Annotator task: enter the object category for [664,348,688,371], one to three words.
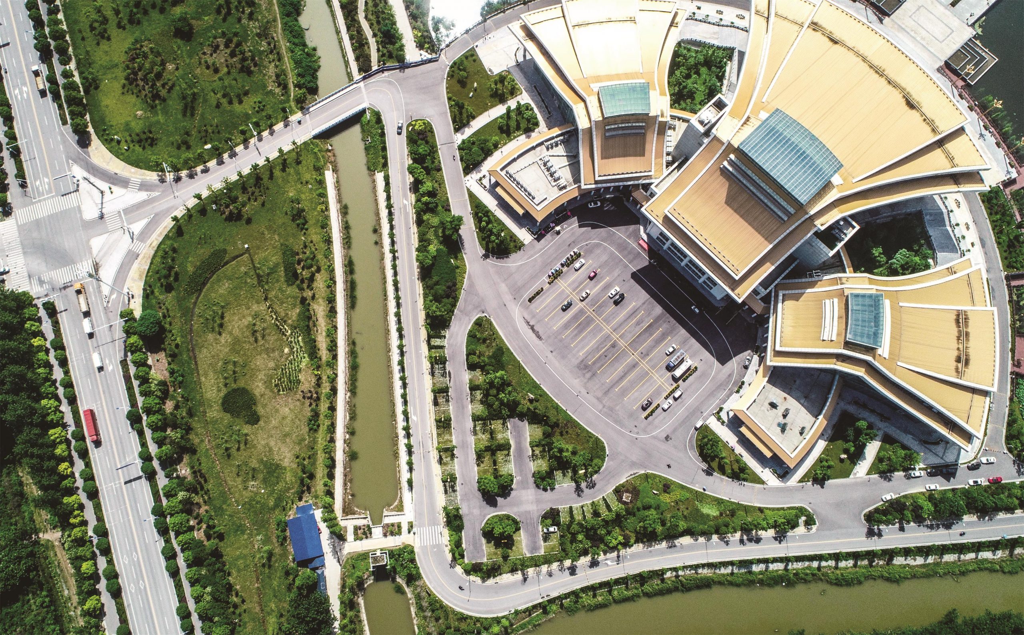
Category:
bus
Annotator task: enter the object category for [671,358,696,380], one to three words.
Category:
bus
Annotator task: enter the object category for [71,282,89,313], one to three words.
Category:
vehicle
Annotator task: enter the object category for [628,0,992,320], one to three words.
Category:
building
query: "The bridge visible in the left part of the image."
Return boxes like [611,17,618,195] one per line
[303,77,368,137]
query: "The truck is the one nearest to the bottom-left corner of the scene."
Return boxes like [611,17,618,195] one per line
[78,408,100,443]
